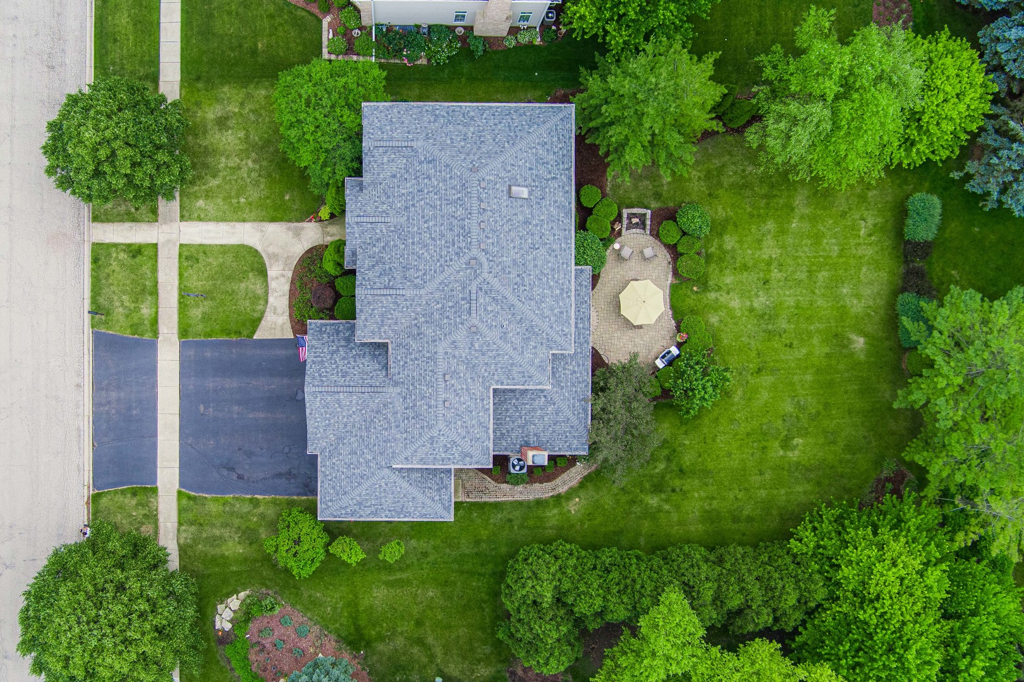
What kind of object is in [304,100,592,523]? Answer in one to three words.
house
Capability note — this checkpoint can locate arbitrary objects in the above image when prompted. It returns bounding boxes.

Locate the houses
[351,0,557,58]
[304,100,592,523]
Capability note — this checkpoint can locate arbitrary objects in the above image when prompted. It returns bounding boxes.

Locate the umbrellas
[619,279,664,325]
